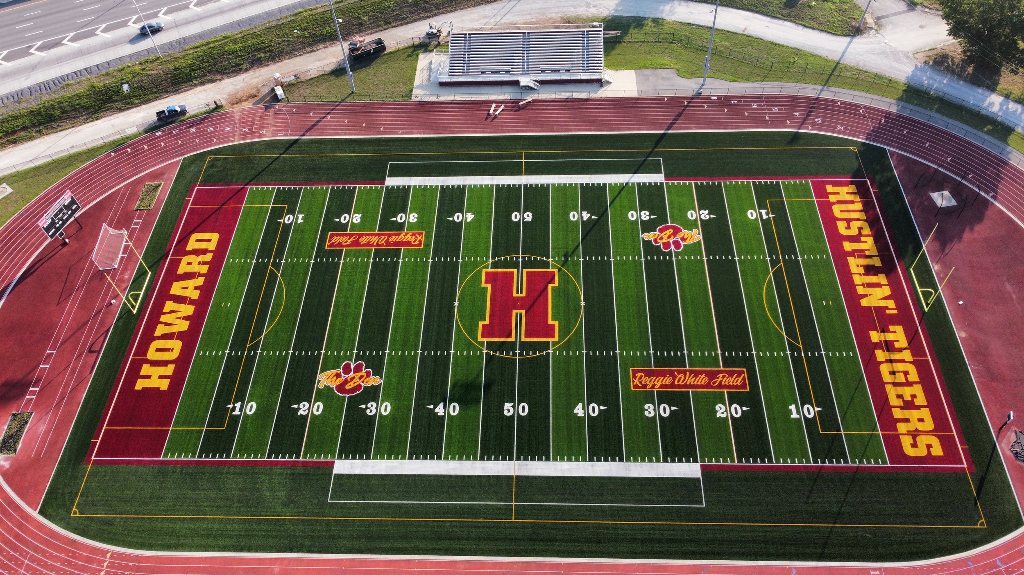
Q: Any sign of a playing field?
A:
Yes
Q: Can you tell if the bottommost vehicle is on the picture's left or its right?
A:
left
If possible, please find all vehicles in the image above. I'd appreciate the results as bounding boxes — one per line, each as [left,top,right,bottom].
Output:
[426,20,453,37]
[347,34,365,47]
[154,103,190,123]
[139,22,164,34]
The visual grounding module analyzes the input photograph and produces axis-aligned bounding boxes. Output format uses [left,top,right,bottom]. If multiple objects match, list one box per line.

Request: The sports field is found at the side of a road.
[39,130,1023,562]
